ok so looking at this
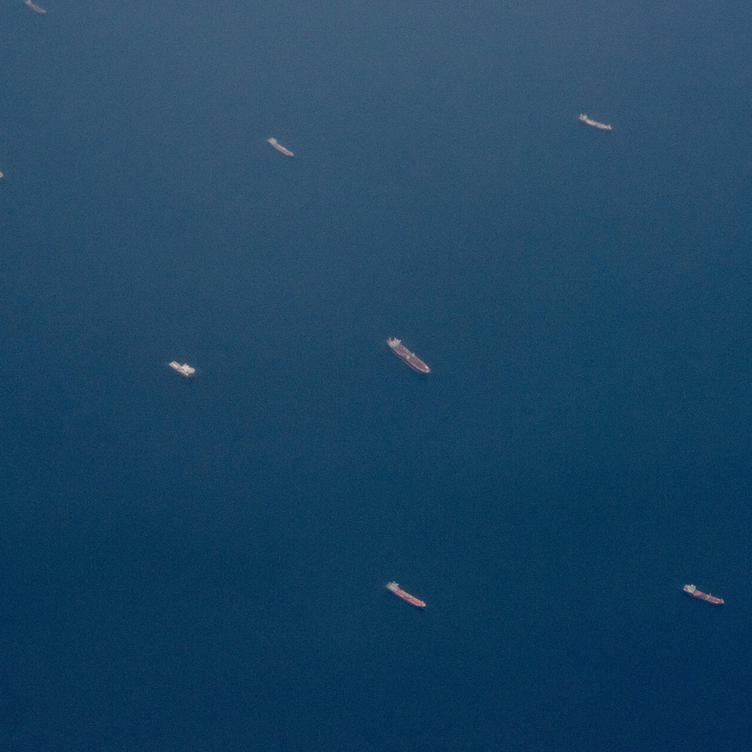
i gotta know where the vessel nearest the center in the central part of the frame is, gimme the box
[386,339,431,373]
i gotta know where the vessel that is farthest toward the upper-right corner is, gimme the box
[579,116,612,131]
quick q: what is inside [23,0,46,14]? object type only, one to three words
ship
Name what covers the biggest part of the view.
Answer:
water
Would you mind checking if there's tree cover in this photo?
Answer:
No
